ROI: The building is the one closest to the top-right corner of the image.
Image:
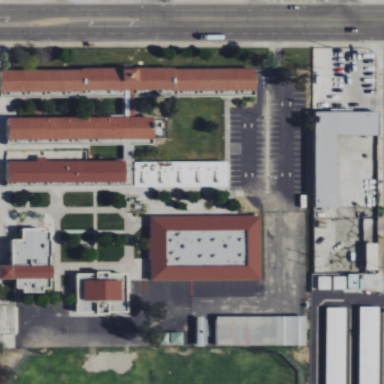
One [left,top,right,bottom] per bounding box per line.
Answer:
[314,111,378,207]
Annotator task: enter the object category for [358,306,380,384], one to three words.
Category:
building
